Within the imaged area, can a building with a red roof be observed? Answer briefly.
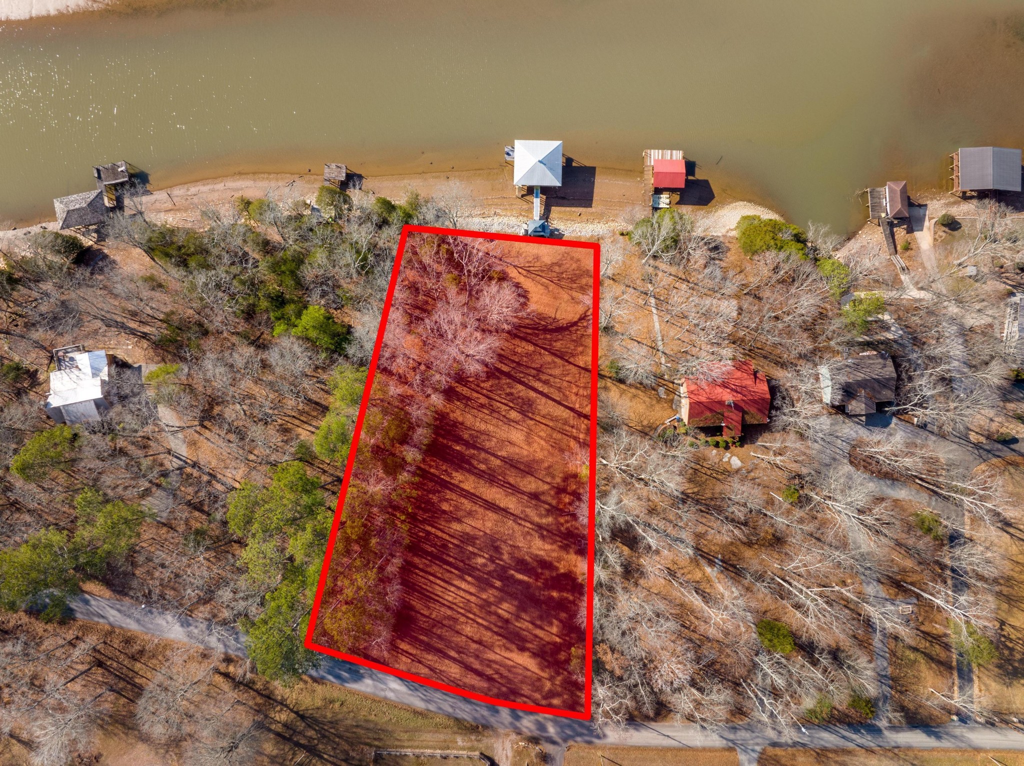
Yes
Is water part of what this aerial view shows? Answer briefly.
Yes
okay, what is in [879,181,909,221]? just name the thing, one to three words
building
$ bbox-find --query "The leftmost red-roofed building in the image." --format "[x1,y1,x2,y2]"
[652,159,686,191]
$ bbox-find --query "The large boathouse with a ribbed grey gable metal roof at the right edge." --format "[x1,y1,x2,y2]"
[945,147,1021,196]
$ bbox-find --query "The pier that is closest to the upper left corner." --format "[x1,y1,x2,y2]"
[89,158,136,209]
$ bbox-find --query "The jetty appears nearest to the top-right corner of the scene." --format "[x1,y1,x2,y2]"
[863,187,897,258]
